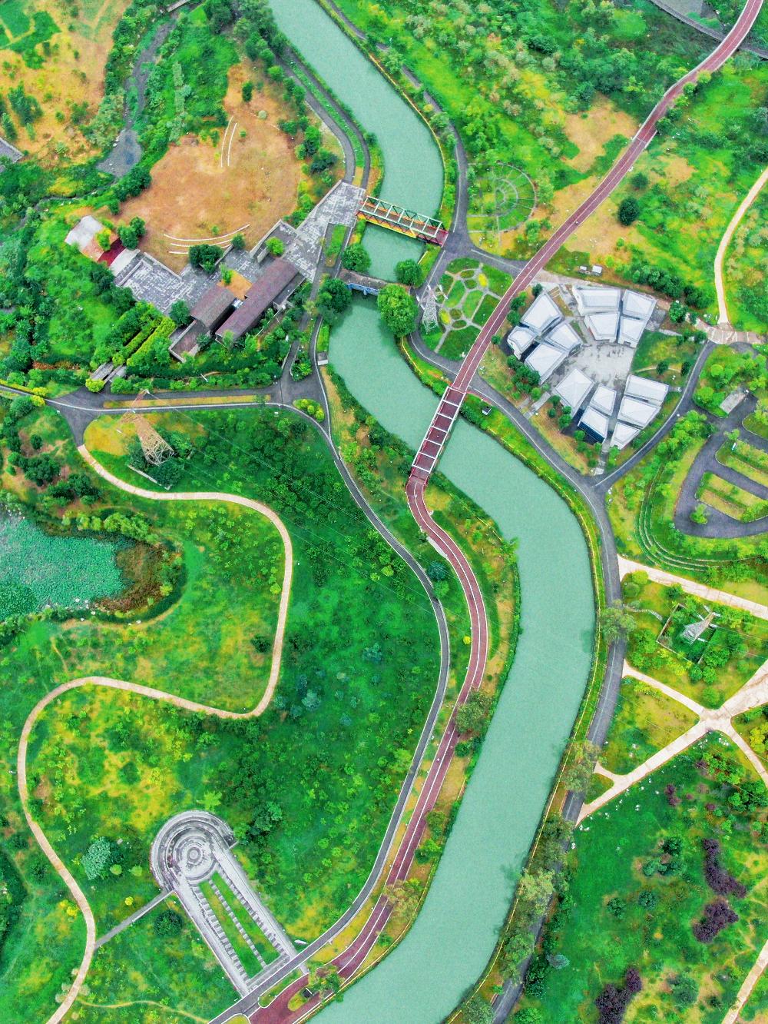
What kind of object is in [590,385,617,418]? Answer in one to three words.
building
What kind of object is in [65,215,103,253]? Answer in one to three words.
shed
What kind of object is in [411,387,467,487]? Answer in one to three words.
bridge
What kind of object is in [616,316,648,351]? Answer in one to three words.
building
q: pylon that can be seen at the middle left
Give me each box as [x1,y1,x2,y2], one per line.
[122,397,175,468]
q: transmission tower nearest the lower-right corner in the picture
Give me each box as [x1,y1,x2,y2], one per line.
[682,603,722,644]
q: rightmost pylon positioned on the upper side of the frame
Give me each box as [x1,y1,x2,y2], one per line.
[418,286,447,333]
